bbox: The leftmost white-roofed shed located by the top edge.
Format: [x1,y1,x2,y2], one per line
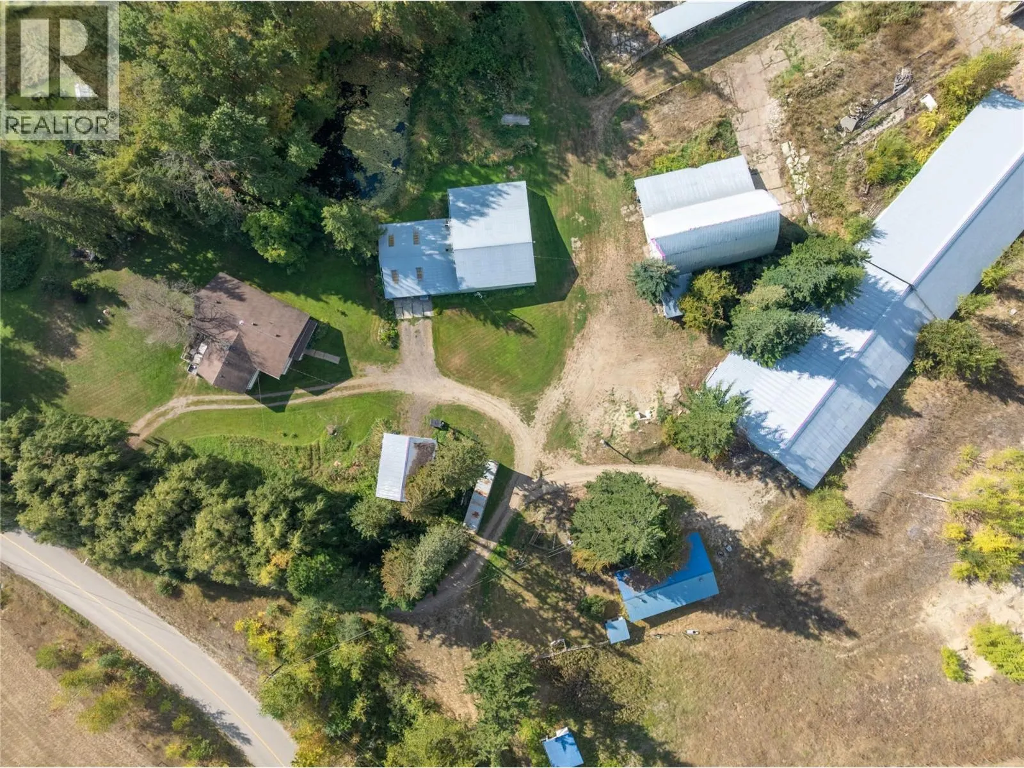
[650,0,764,47]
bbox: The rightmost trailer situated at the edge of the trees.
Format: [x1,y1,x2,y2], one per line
[467,459,500,532]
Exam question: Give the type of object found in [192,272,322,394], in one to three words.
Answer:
house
